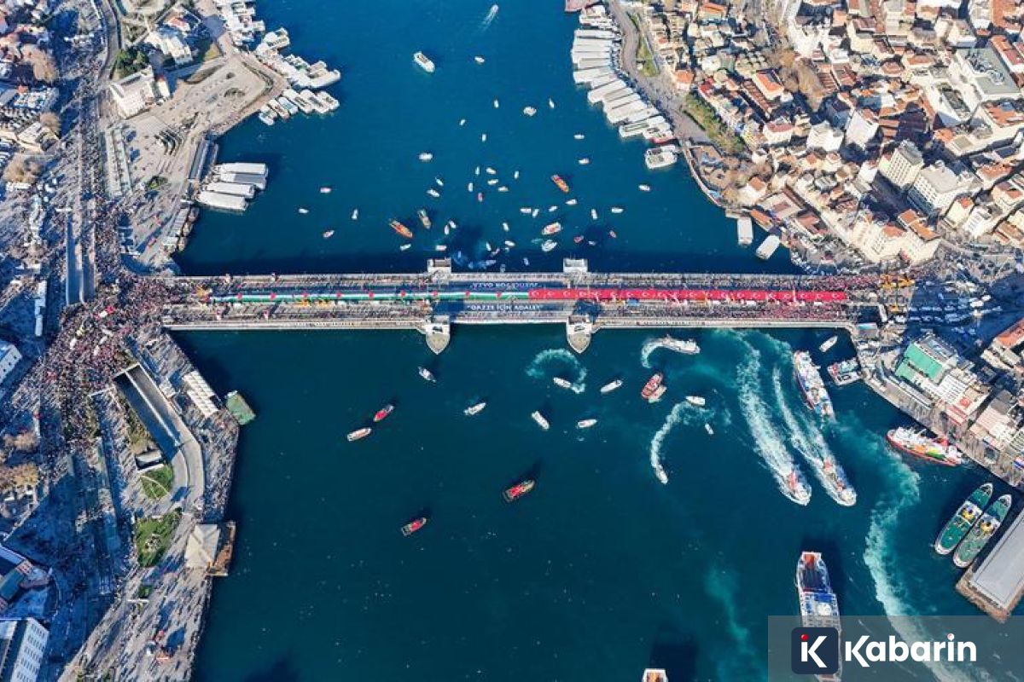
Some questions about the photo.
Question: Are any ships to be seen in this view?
Yes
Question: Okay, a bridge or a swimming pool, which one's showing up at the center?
bridge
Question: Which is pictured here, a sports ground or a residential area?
residential area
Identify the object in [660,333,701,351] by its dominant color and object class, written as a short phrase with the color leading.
white ship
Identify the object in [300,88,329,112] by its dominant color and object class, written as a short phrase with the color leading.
white boat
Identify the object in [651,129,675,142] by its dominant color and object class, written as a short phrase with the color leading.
white ship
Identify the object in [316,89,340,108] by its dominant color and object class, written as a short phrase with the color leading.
white boat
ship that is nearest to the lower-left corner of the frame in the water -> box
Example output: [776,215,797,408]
[222,388,256,427]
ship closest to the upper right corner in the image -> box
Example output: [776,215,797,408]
[755,233,784,262]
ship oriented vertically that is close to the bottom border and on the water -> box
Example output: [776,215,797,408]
[798,549,844,682]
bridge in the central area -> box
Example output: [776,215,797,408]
[167,255,857,356]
